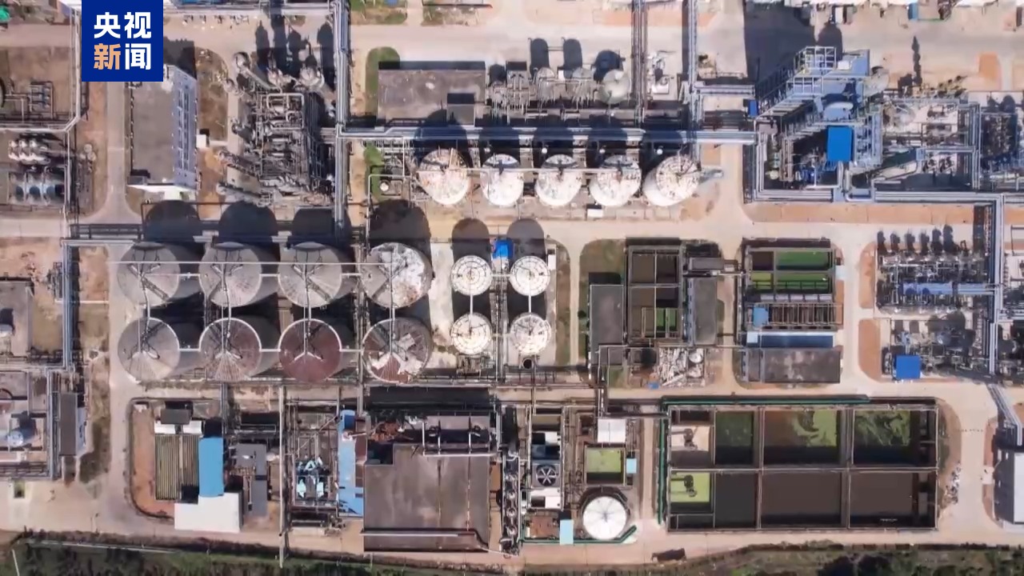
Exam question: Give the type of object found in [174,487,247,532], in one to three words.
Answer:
shed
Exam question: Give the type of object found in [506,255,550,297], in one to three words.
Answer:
storage tank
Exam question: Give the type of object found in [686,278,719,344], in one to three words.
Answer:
building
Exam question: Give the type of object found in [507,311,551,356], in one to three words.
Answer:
storage tank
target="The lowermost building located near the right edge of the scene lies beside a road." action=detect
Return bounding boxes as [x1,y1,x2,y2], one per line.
[991,442,1024,524]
